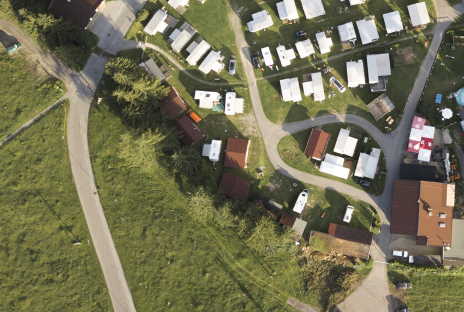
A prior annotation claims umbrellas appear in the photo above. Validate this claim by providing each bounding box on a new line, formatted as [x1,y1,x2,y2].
[412,116,425,130]
[422,125,435,139]
[418,148,431,162]
[442,108,453,119]
[420,137,433,150]
[408,139,421,153]
[410,128,422,141]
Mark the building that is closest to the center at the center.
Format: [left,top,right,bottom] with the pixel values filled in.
[224,137,251,169]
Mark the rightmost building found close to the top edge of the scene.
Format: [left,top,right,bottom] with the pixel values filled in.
[408,2,430,30]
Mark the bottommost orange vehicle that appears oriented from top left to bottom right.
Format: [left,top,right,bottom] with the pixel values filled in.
[186,108,202,124]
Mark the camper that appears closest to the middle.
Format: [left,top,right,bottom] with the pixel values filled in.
[202,139,222,162]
